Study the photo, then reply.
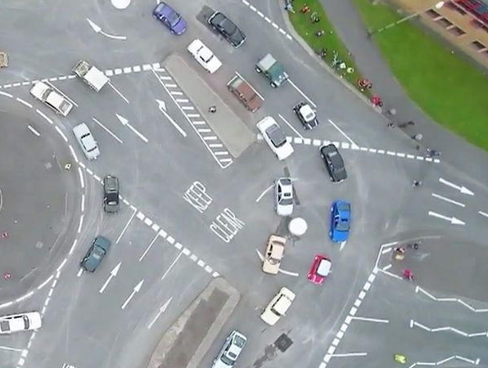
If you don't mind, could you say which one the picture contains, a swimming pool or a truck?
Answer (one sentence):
Visible in the photo is a truck.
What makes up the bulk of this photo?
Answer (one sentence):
Most of the picture is covered by paved ground.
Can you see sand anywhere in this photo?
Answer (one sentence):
No, the scene doesn't show any sand.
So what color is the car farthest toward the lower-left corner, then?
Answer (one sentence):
In this view, the car farthest toward the lower-left corner is white.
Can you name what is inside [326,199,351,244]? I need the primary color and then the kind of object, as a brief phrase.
blue car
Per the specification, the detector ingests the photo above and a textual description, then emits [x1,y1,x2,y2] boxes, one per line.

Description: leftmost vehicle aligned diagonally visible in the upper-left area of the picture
[29,80,74,117]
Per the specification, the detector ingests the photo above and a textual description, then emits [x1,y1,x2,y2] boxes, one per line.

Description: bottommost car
[209,329,247,368]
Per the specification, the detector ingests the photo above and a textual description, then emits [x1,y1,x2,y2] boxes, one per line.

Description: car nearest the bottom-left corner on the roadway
[0,310,43,335]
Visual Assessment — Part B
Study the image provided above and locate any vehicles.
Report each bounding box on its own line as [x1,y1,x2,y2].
[318,141,346,185]
[69,57,114,93]
[0,310,43,335]
[251,49,291,90]
[258,285,295,327]
[209,329,247,368]
[73,121,99,161]
[253,115,293,161]
[205,8,247,48]
[288,98,320,133]
[79,235,109,275]
[151,0,189,38]
[183,38,223,74]
[326,199,351,244]
[101,175,120,214]
[273,176,296,216]
[259,233,285,275]
[223,71,264,113]
[29,80,74,117]
[304,252,331,286]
